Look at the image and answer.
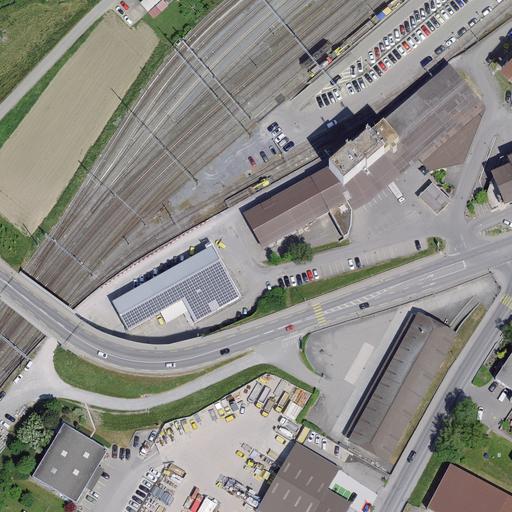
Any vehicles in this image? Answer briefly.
Yes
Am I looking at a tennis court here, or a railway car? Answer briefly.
railway car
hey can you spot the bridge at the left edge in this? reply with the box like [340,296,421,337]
[0,258,86,350]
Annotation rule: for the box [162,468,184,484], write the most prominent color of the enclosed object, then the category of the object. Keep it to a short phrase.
white vehicle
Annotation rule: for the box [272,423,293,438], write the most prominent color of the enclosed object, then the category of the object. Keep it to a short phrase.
white vehicle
